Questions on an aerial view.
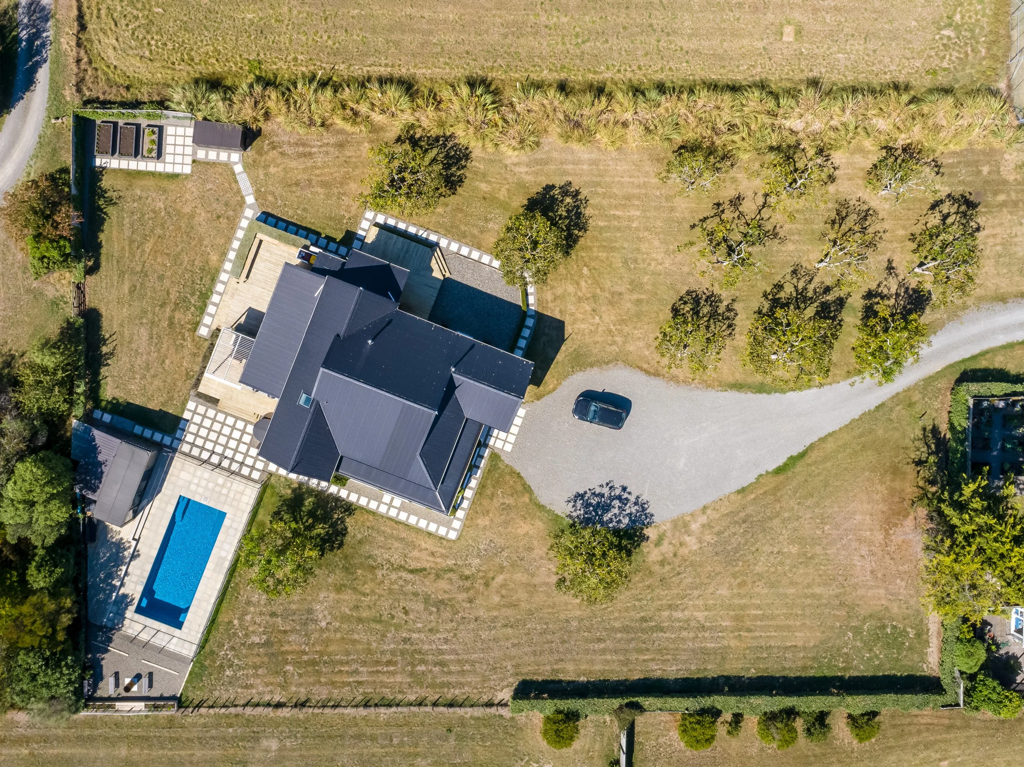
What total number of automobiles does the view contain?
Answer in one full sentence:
I count just 1 automobile.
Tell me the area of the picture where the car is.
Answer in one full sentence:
The car is in the center part of the image.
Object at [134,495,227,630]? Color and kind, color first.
blue swimming pool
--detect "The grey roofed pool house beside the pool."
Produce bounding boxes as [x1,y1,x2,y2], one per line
[72,420,162,529]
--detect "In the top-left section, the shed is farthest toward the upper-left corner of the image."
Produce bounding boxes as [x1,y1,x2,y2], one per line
[193,121,253,155]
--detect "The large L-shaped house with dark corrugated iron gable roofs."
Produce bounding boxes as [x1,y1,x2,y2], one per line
[239,248,537,518]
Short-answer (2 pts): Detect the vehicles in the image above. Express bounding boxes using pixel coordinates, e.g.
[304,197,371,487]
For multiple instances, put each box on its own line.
[571,396,628,430]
